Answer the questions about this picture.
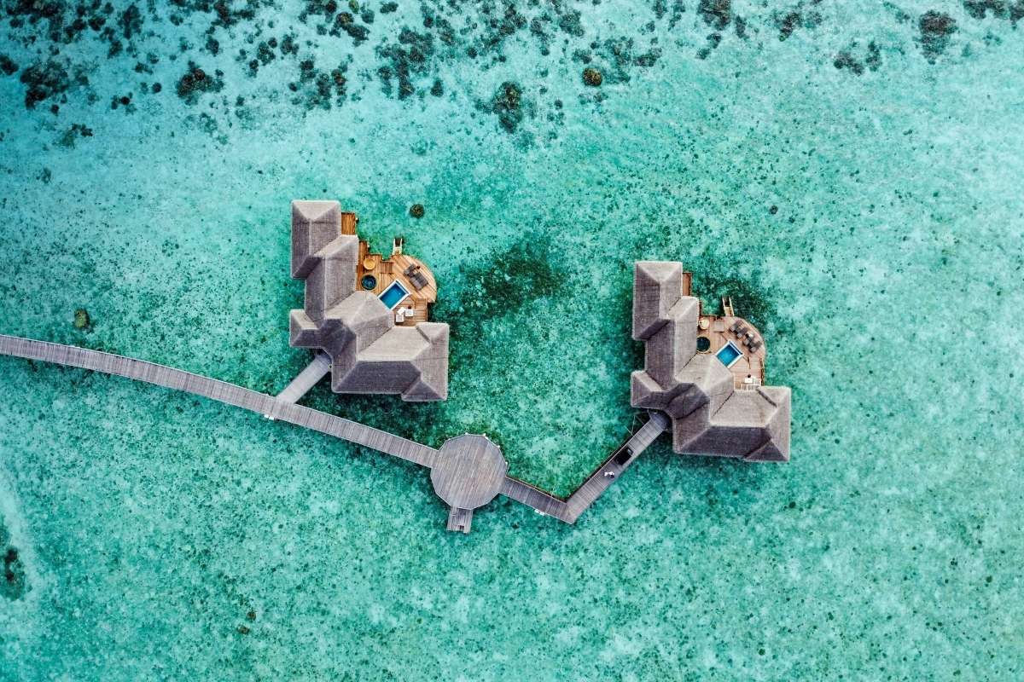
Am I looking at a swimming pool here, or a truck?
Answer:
swimming pool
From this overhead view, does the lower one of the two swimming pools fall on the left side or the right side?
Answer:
right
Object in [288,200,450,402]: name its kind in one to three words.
house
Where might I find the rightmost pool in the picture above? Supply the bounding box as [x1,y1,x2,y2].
[716,342,741,366]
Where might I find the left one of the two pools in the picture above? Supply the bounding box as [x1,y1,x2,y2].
[379,282,407,307]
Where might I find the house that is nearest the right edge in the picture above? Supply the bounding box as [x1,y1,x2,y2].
[630,261,791,463]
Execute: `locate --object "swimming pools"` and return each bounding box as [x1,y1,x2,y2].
[716,342,741,366]
[379,282,407,307]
